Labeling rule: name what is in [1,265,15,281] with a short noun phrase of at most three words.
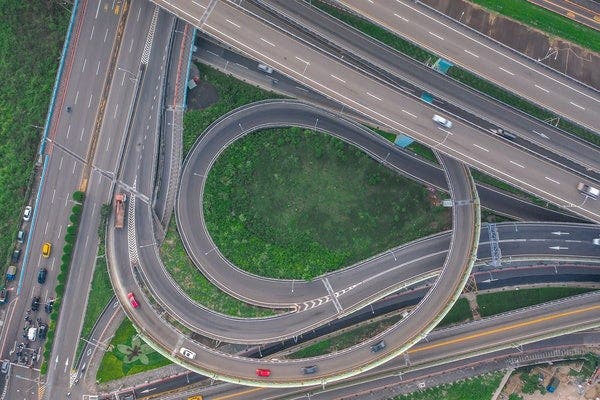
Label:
vehicle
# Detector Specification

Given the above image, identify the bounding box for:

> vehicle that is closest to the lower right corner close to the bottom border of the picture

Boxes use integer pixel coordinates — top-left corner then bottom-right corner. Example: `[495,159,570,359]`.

[547,377,564,398]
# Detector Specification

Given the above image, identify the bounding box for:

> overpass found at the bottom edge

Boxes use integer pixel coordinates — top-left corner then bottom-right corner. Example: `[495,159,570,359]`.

[156,289,600,400]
